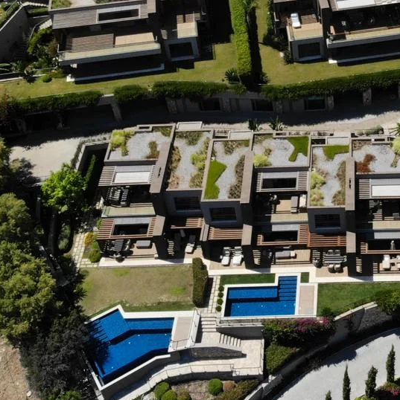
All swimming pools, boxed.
[221,273,317,331]
[87,305,198,395]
